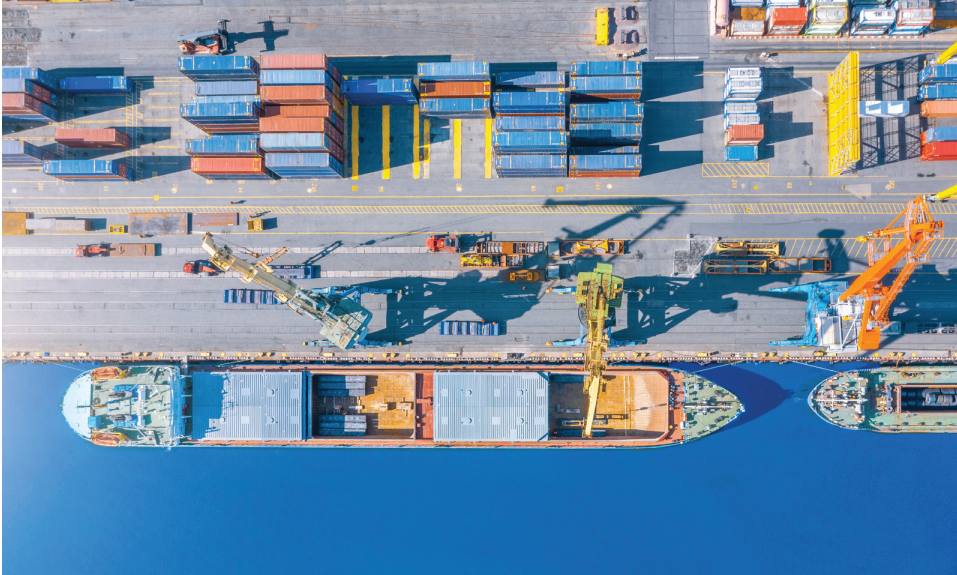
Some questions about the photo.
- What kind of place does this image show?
port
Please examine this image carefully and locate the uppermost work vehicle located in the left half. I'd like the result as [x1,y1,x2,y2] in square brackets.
[174,13,221,56]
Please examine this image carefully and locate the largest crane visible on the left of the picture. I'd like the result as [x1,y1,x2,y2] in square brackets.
[189,226,407,358]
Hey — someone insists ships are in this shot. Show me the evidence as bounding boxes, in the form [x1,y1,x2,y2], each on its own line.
[61,363,745,448]
[805,356,957,434]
